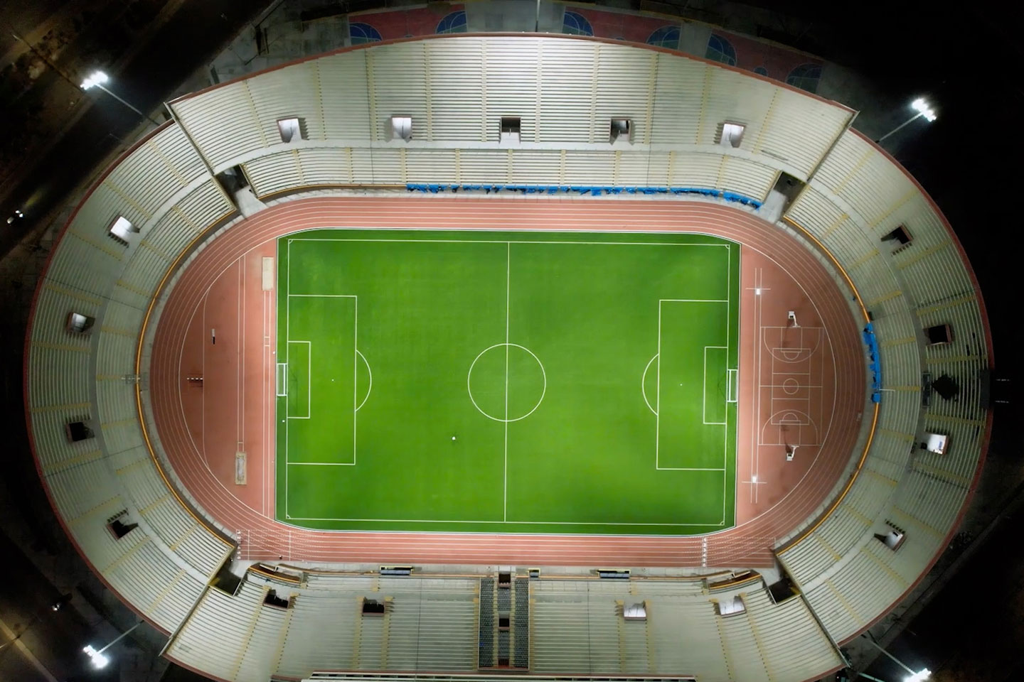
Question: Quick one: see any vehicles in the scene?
Yes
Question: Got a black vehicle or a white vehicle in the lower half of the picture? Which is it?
black vehicle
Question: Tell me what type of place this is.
sports ground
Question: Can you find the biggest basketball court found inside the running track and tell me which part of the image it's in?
right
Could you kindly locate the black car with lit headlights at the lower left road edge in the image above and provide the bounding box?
[51,595,70,611]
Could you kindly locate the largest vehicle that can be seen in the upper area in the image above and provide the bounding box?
[2,208,21,225]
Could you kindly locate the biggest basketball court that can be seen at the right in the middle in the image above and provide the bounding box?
[759,327,823,446]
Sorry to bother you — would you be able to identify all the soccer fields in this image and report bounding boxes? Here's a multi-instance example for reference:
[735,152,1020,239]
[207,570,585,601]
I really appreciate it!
[275,232,740,534]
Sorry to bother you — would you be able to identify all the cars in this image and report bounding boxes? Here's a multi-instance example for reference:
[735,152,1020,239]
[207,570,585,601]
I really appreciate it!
[2,208,21,225]
[51,595,70,611]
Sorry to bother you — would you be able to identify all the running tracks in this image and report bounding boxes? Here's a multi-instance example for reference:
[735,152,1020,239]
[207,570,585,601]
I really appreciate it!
[149,199,867,568]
